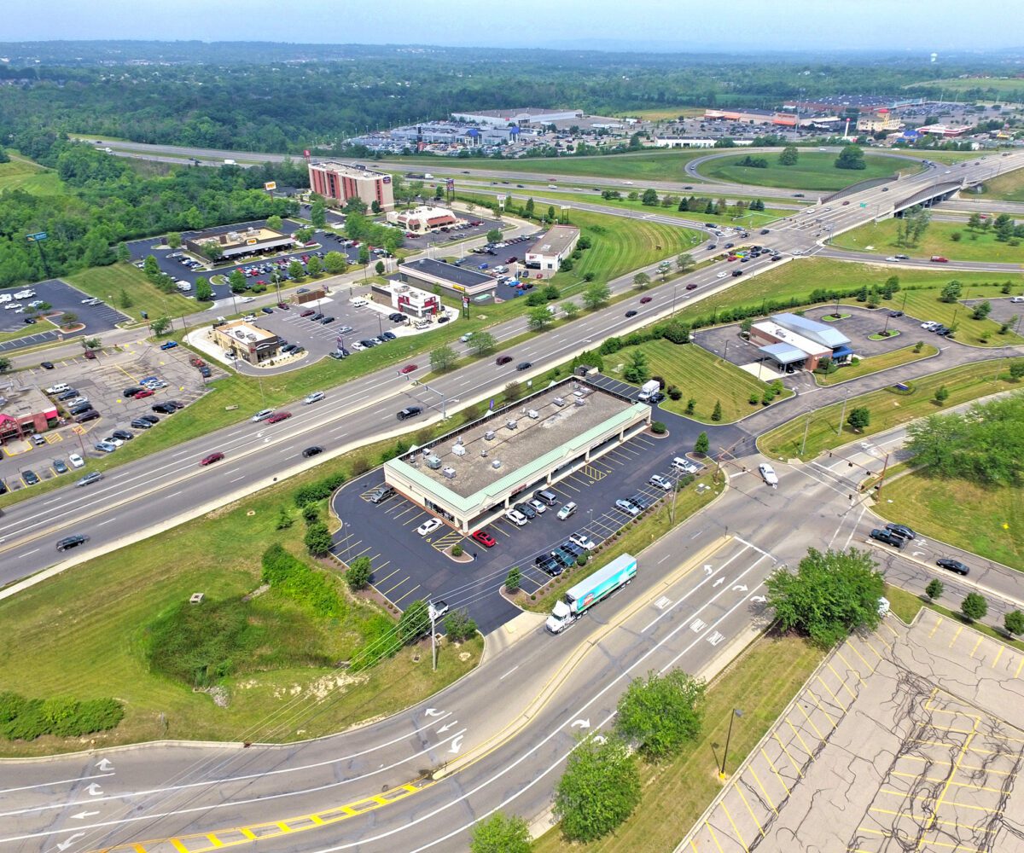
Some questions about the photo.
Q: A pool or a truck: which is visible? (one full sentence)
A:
Of the two, only a truck appears.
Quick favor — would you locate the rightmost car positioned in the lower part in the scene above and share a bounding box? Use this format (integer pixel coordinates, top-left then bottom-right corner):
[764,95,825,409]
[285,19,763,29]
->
[937,555,972,574]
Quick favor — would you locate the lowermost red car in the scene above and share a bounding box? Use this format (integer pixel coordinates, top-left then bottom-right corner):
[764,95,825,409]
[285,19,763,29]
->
[472,529,496,545]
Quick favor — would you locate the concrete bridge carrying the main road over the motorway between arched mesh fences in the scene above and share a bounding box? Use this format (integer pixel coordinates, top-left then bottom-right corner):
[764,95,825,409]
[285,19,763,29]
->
[805,161,1024,233]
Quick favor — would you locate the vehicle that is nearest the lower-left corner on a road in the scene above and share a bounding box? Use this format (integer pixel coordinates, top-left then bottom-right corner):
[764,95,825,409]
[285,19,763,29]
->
[54,531,87,549]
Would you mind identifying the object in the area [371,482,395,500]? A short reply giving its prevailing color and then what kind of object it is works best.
gray car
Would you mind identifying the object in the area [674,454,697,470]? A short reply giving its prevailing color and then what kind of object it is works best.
white car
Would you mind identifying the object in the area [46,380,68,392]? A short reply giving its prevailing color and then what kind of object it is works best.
white vehicle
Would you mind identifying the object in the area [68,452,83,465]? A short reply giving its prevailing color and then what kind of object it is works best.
white vehicle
